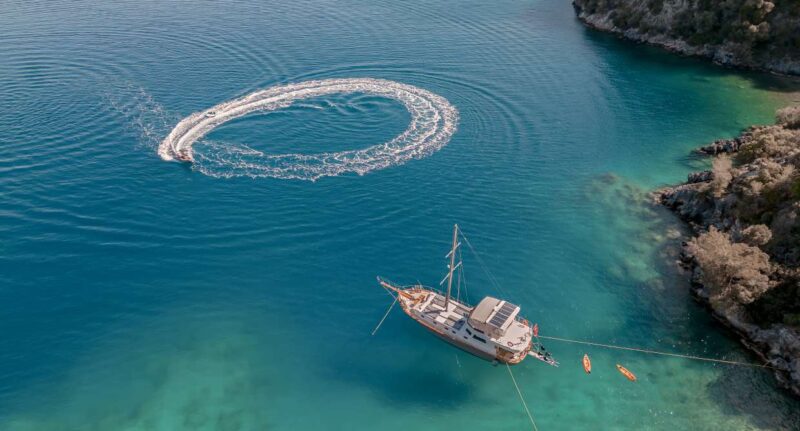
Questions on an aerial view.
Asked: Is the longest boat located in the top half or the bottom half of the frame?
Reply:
bottom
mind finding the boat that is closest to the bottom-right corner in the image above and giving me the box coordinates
[616,362,638,381]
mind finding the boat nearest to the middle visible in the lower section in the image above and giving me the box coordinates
[376,225,561,369]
